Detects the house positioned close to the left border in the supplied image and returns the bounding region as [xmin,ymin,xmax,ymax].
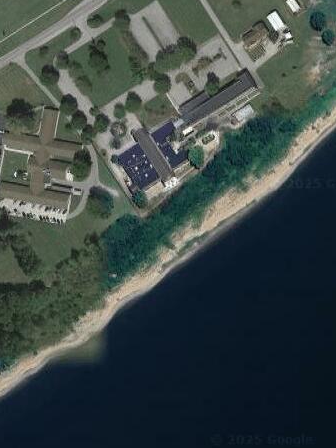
[0,108,82,207]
